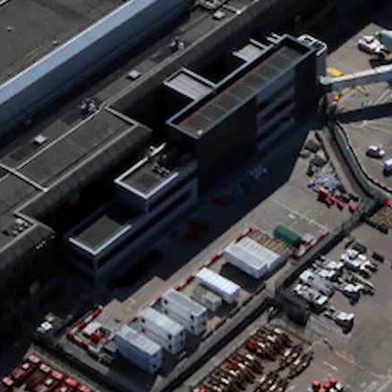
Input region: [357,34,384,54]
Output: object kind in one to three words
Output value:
work vehicle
